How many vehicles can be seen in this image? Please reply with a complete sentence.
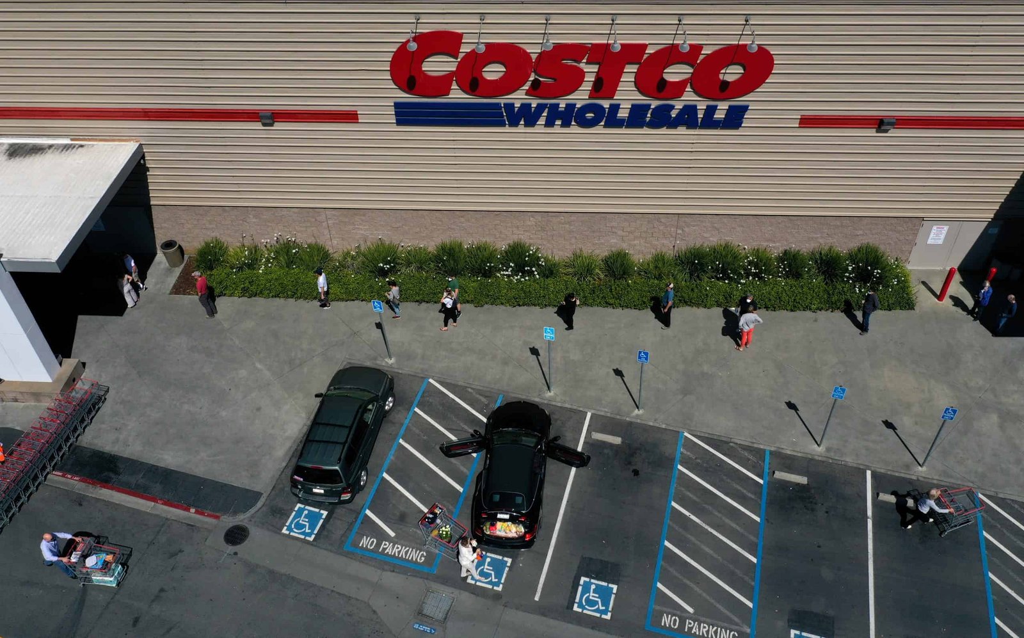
The count of vehicles comes to 2.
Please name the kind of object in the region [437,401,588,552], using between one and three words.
car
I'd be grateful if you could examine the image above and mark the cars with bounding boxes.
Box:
[287,367,390,508]
[437,401,588,552]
